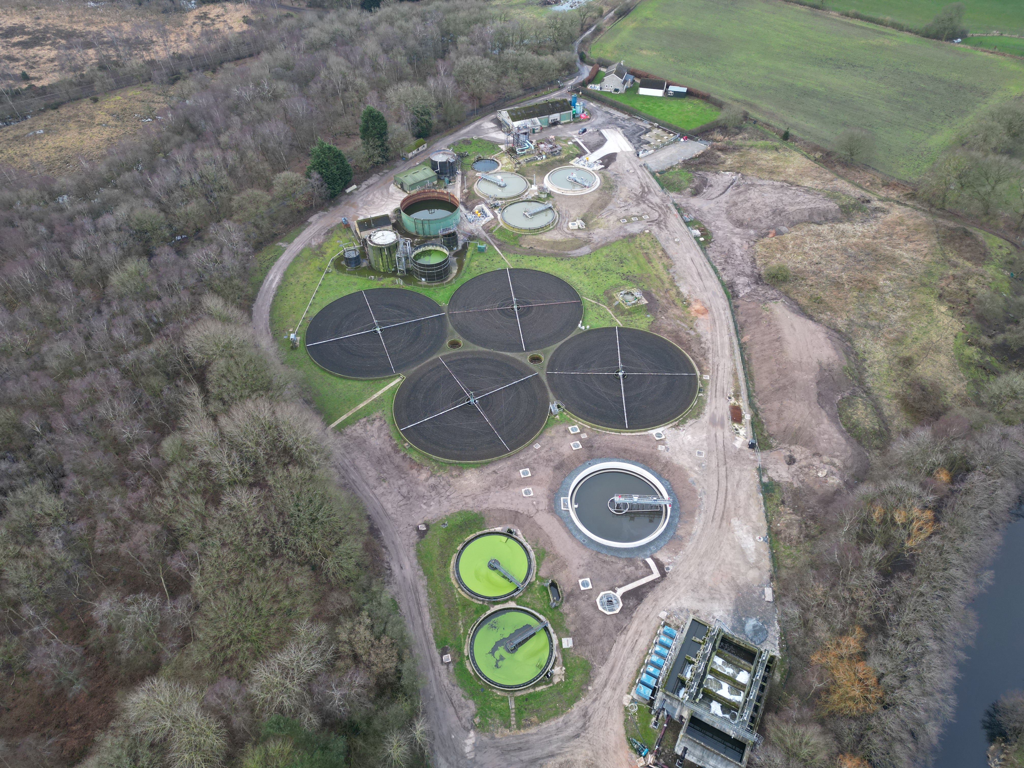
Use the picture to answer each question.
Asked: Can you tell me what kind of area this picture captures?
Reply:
industrial area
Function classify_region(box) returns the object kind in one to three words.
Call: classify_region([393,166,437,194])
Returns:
shed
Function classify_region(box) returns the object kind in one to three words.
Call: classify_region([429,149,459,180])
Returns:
storage tank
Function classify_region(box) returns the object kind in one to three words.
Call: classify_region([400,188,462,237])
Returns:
storage tank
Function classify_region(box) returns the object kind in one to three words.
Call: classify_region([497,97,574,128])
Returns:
building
